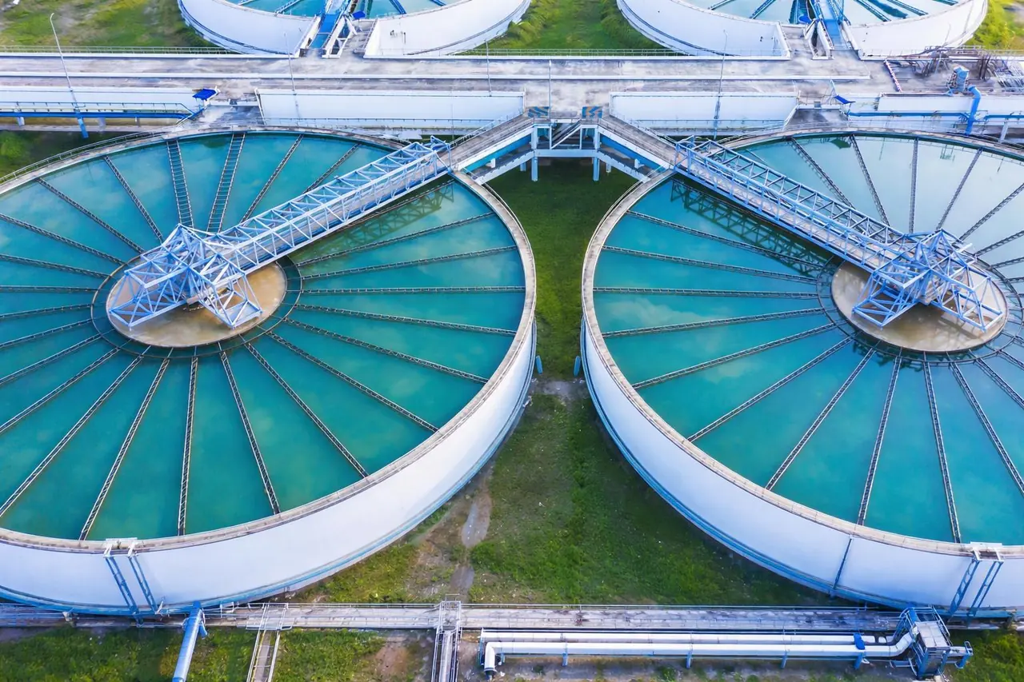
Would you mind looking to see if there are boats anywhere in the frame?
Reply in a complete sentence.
No, there is no boat in the image.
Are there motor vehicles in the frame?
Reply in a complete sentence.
No, the photo shows no motor vehicle.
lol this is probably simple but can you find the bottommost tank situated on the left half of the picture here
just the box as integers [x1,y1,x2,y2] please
[0,117,538,610]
